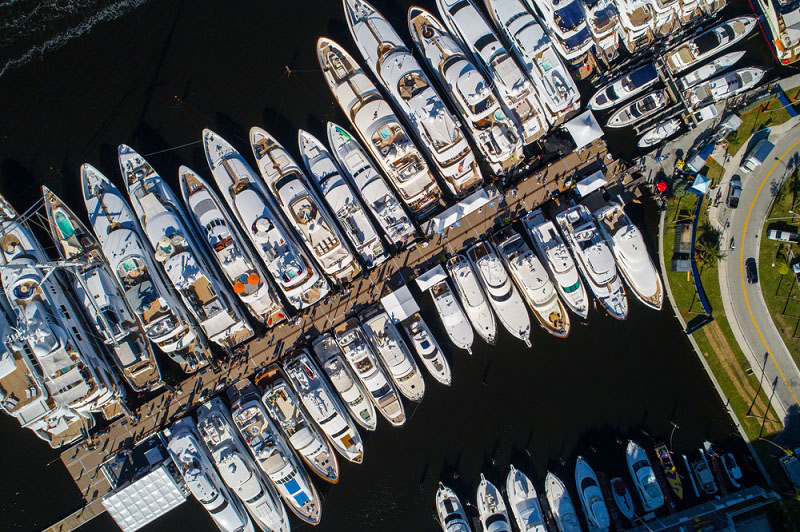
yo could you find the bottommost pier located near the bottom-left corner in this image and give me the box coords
[38,493,109,532]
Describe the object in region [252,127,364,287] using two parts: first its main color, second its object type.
white boat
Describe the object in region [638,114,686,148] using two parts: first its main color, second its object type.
white boat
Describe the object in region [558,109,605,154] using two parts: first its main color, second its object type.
white tent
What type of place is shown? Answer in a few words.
parking lot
